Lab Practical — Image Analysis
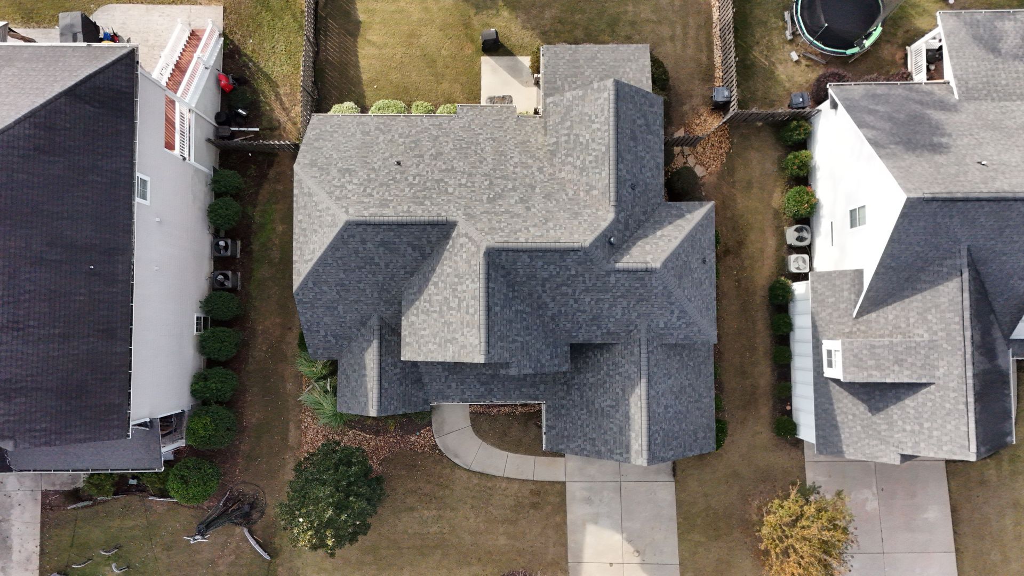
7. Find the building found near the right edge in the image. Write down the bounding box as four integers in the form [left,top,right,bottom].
[791,11,1024,465]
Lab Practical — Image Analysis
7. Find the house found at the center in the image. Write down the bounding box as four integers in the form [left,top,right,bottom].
[291,45,716,464]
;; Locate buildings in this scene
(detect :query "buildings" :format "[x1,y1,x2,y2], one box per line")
[791,11,1024,465]
[0,44,220,475]
[291,45,716,464]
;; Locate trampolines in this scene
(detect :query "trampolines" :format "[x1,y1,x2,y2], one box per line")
[790,0,907,64]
